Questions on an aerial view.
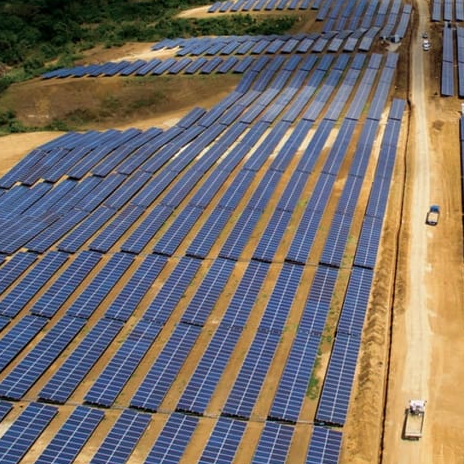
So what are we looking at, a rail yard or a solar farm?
solar farm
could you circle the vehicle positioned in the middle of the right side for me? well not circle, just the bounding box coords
[427,208,439,224]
